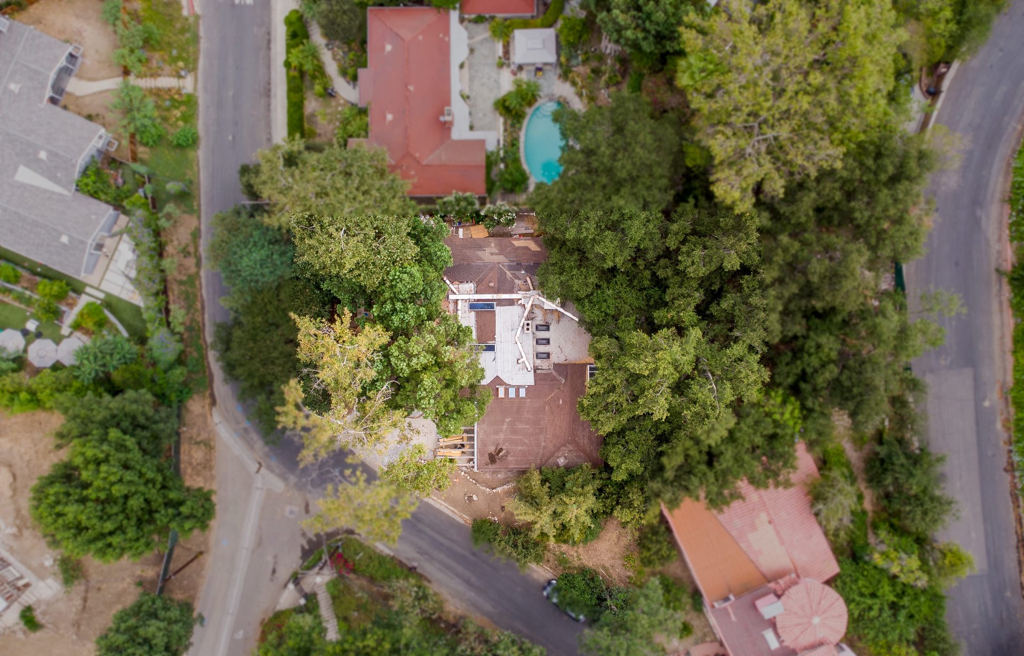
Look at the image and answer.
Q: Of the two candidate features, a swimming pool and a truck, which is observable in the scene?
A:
swimming pool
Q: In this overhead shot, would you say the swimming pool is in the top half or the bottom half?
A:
top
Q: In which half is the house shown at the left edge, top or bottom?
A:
top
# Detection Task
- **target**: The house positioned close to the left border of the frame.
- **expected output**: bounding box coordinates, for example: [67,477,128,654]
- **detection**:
[0,15,127,278]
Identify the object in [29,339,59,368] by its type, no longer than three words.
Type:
umbrella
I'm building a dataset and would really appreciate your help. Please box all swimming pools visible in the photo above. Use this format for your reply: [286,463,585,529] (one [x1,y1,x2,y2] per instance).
[520,96,578,188]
